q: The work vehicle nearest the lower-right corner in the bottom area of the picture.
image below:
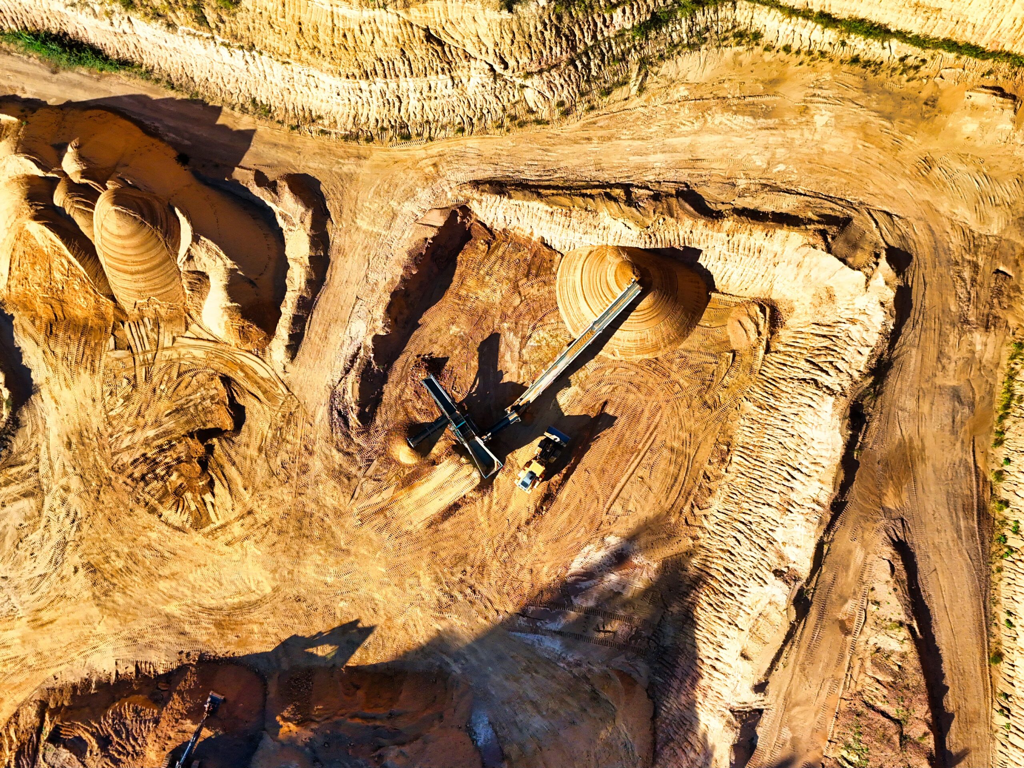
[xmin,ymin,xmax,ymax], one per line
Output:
[513,424,570,498]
